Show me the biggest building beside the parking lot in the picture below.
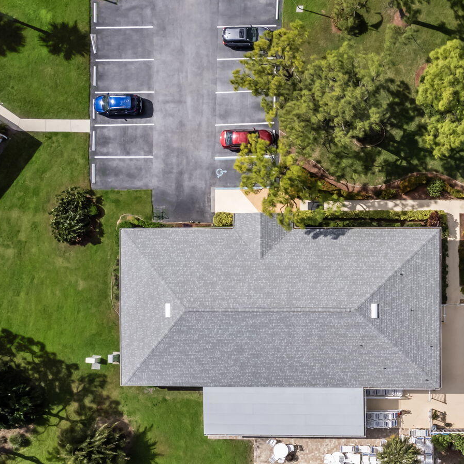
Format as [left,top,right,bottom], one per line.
[119,212,441,387]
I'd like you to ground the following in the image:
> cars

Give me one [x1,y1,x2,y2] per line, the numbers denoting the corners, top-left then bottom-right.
[222,25,269,51]
[221,127,274,151]
[95,91,144,116]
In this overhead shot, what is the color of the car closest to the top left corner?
blue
